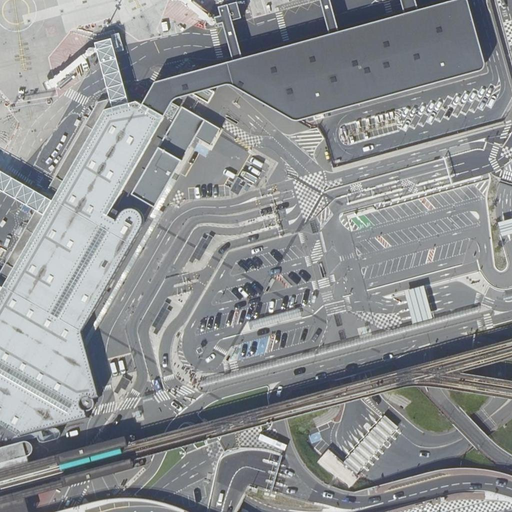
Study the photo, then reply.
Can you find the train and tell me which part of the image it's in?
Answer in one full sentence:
You can find the train in the bottom left area of the picture.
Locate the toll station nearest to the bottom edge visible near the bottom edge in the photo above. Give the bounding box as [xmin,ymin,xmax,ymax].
[263,455,290,499]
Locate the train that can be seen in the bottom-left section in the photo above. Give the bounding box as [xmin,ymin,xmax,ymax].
[59,448,122,469]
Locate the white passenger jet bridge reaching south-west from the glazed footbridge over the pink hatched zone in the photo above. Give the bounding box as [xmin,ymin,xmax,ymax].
[45,48,96,90]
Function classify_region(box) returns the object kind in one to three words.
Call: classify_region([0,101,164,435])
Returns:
building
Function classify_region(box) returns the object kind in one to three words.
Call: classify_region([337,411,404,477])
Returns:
toll station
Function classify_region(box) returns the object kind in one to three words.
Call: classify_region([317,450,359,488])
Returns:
building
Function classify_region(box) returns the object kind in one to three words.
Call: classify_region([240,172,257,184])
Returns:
vehicle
